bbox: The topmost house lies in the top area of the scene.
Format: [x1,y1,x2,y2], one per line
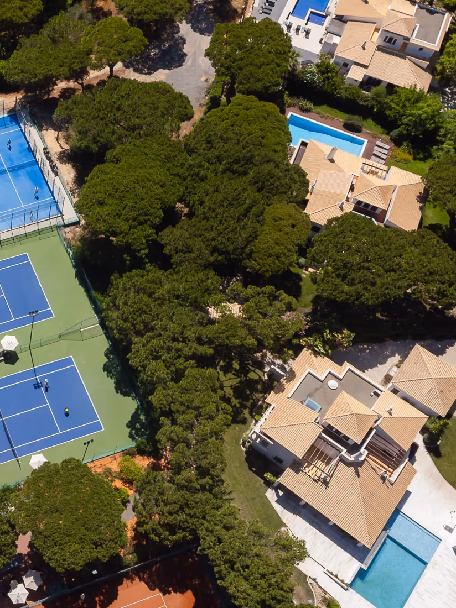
[319,0,453,86]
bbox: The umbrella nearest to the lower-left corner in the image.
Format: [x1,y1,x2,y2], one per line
[8,583,28,606]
